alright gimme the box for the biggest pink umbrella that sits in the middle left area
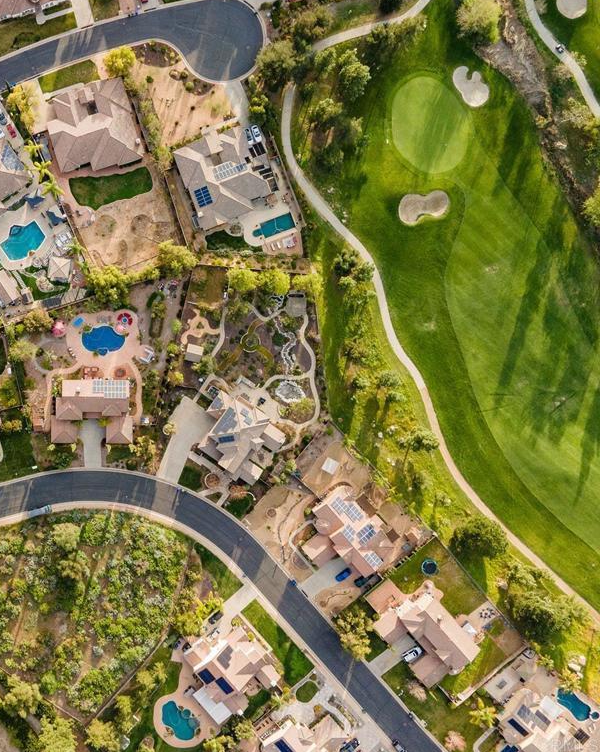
[50,320,64,333]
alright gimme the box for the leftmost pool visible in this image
[0,219,47,261]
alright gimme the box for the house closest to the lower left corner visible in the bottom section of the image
[184,622,282,725]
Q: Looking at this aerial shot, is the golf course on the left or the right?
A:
right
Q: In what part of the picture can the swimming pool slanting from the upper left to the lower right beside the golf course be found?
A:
bottom right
